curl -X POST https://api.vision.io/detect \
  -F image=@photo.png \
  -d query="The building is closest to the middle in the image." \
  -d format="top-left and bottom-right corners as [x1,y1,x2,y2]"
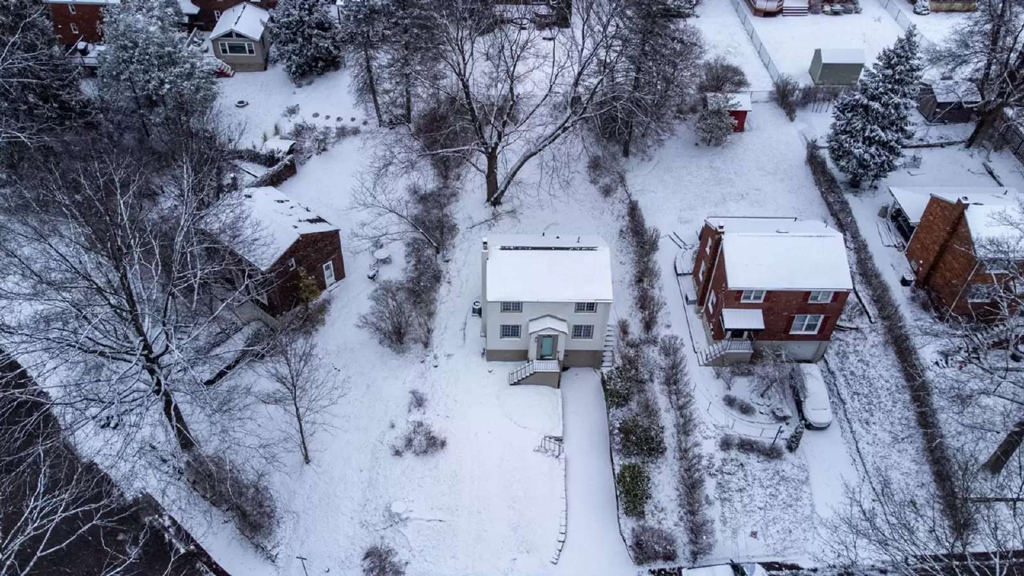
[476,230,614,383]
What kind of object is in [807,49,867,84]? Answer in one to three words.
shed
